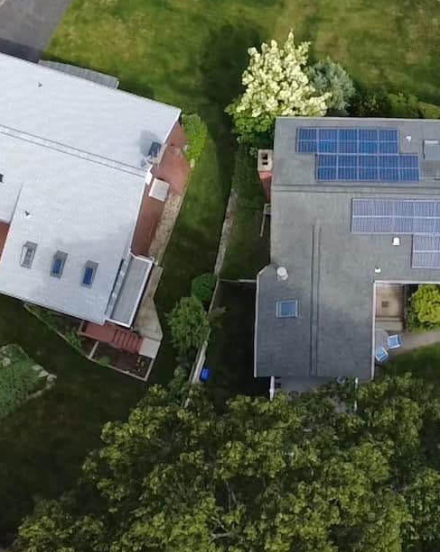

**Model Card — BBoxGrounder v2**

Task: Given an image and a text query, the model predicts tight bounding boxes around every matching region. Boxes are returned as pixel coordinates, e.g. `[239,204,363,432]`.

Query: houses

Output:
[0,51,190,362]
[253,117,440,415]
